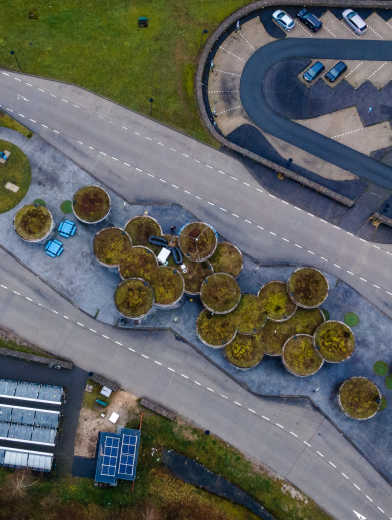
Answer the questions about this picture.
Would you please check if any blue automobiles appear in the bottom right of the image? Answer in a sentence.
No, I can find no blue automobile in the bottom right of the image.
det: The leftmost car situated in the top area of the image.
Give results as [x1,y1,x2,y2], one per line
[272,7,296,30]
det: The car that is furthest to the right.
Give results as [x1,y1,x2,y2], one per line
[343,8,370,33]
